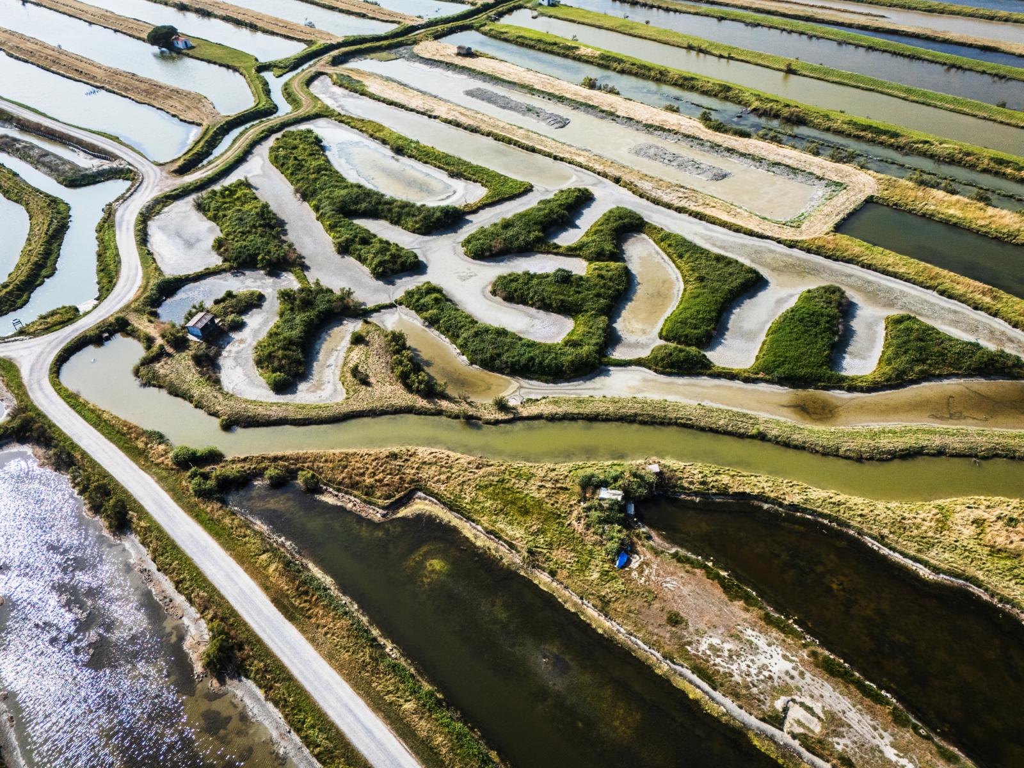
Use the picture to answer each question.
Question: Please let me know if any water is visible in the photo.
Yes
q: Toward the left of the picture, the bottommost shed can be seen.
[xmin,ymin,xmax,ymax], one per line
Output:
[185,312,216,340]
